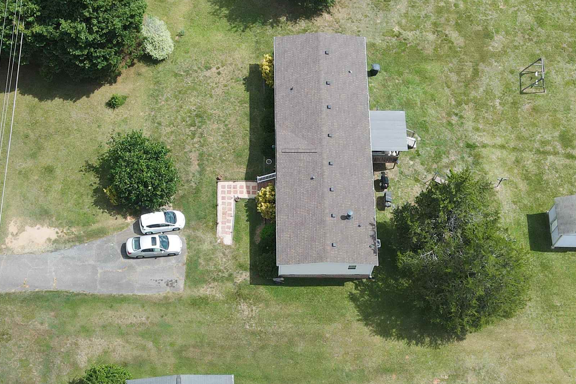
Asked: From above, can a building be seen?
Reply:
Yes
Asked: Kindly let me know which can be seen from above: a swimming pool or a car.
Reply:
car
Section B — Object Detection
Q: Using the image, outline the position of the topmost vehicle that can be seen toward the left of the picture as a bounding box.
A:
[139,203,186,232]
